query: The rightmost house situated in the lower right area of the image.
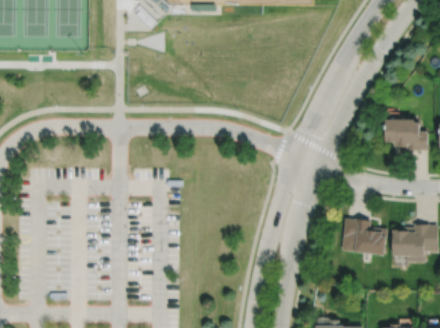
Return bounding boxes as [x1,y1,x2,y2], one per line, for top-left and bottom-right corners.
[393,225,439,264]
